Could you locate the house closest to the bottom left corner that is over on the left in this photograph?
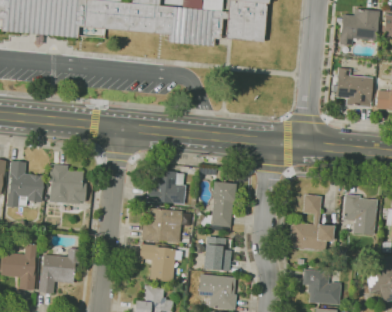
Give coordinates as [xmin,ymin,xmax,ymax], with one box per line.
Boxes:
[1,246,37,292]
